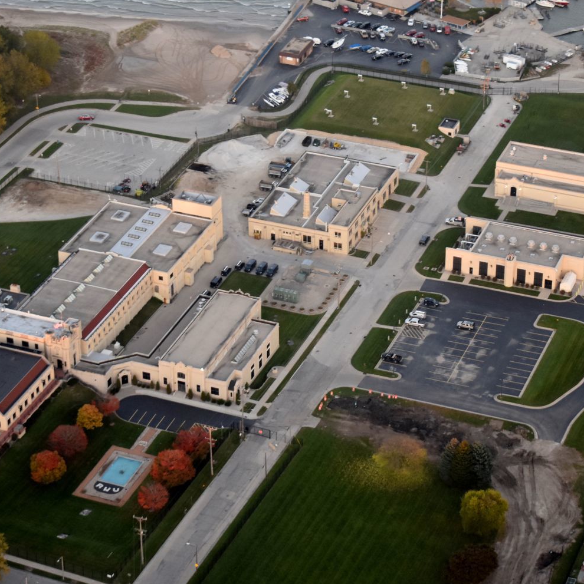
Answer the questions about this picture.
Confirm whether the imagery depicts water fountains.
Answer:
Yes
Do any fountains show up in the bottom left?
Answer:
Yes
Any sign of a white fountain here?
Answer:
No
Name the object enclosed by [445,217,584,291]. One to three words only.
building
